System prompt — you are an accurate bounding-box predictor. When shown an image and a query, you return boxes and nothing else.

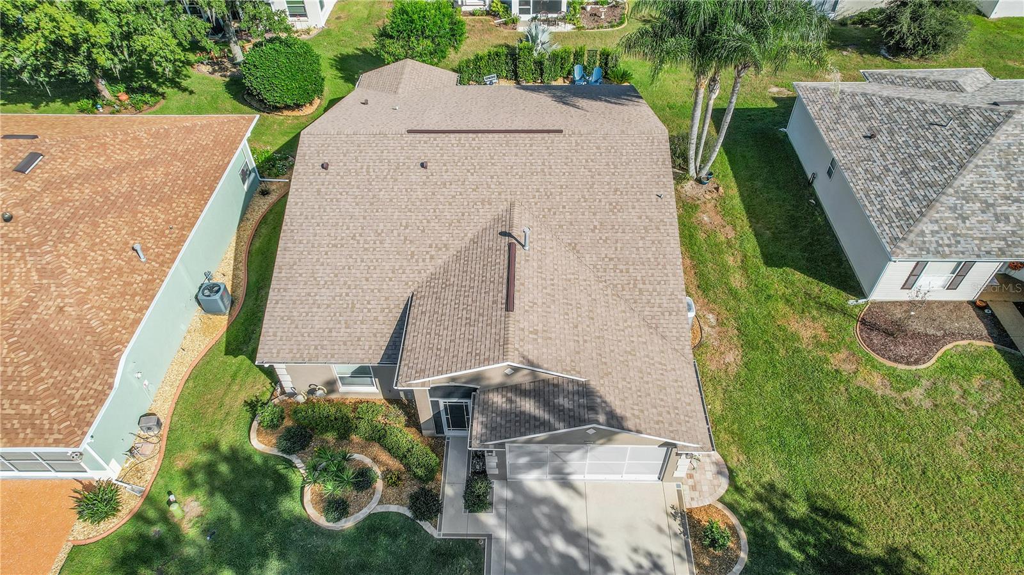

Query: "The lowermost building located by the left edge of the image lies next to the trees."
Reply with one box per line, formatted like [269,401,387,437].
[0,113,292,488]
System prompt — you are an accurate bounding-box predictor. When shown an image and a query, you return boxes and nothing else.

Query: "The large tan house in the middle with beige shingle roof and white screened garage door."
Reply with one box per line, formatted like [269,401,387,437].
[251,57,717,484]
